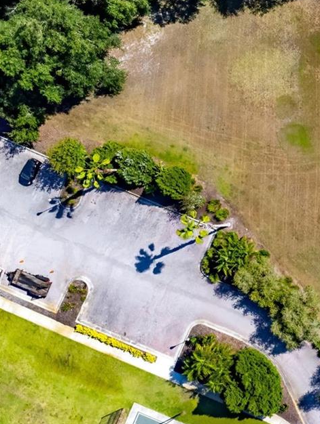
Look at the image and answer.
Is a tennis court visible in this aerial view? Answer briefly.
No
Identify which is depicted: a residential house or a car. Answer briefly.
car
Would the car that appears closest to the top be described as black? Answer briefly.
Yes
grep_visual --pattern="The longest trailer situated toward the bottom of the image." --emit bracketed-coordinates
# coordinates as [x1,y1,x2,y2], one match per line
[3,270,48,299]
